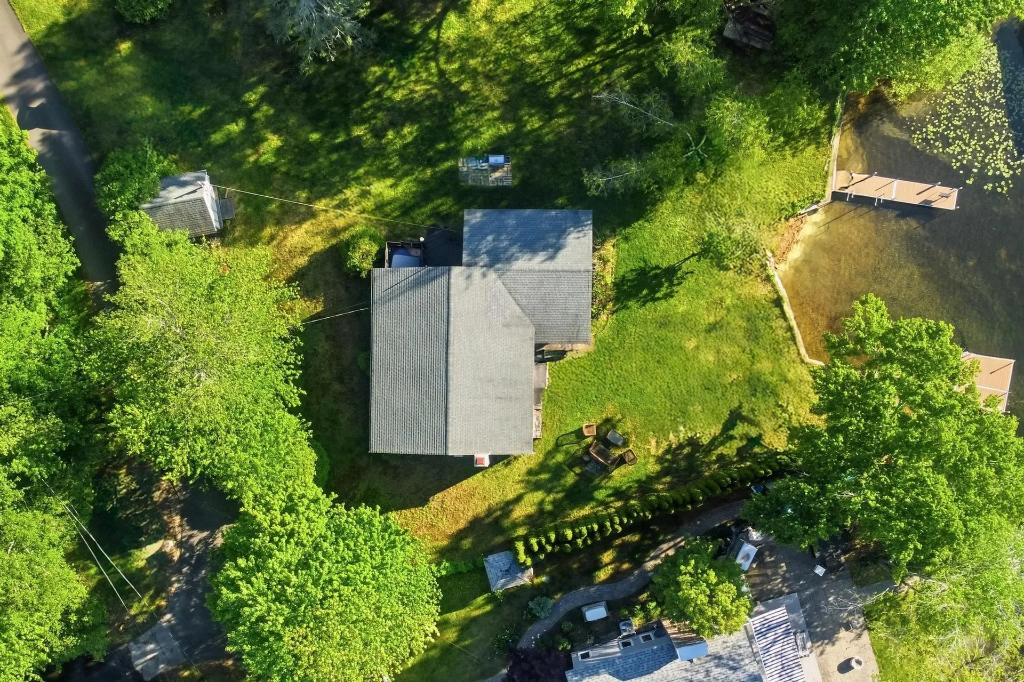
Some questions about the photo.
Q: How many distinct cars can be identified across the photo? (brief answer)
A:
0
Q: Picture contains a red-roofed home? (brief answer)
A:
No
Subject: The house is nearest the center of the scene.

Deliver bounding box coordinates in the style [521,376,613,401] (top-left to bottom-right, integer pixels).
[370,208,595,471]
